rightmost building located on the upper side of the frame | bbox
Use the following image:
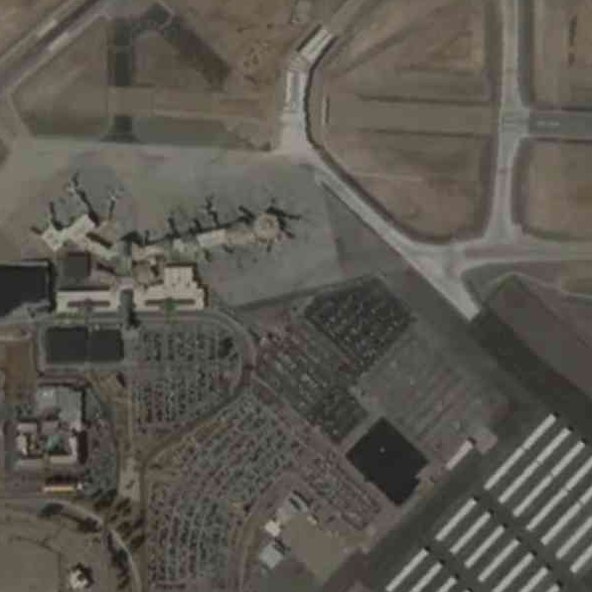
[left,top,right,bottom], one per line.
[255,216,278,238]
